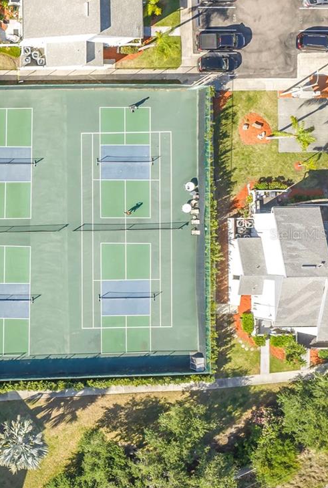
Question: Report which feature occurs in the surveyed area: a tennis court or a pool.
tennis court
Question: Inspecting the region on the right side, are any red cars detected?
No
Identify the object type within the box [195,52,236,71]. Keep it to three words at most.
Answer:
car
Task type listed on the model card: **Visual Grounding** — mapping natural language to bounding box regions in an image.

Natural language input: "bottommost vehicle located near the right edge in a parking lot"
[294,30,328,51]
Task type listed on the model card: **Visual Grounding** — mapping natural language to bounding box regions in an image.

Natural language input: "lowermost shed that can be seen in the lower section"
[191,355,211,376]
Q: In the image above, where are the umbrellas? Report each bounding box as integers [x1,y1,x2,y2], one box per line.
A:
[177,203,191,214]
[180,181,194,192]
